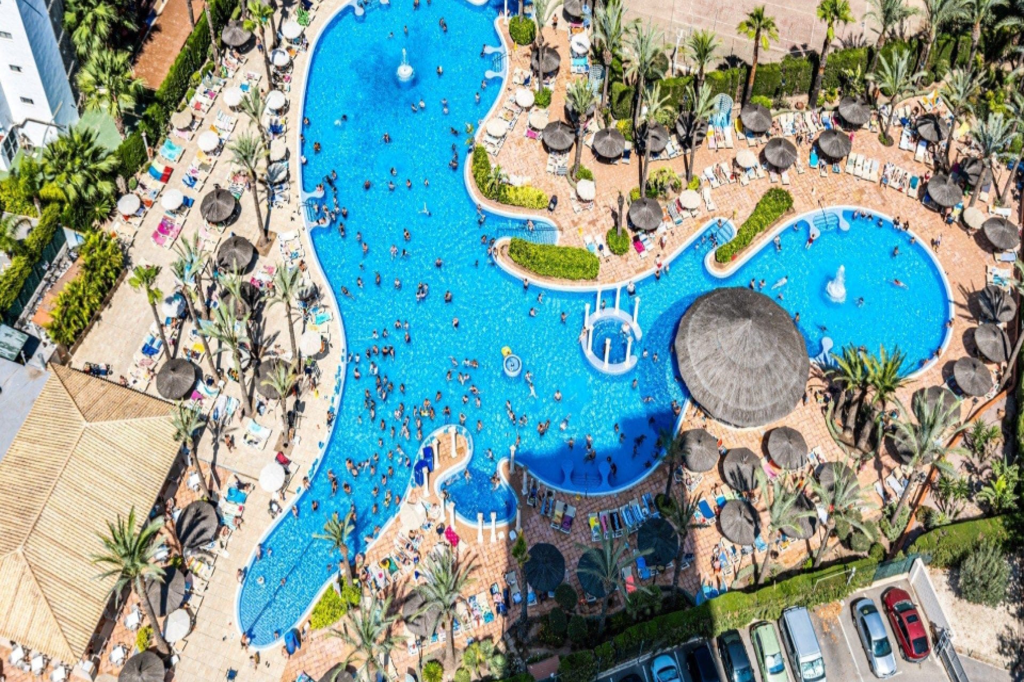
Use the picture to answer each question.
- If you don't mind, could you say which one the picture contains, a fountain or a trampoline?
fountain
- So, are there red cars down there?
Yes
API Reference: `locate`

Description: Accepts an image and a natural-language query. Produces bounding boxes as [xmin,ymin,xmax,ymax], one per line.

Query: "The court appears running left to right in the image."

[613,0,1003,78]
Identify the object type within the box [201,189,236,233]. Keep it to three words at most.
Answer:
umbrella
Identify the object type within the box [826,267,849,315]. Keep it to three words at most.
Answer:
fountain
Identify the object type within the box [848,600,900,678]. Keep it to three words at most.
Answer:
car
